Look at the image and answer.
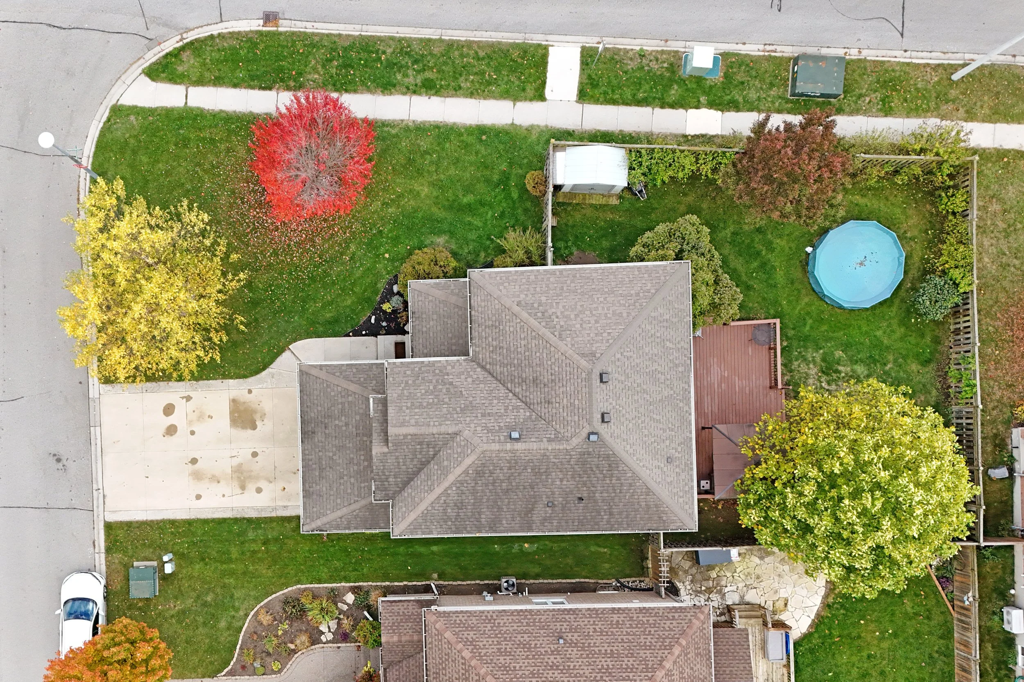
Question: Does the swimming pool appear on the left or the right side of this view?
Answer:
right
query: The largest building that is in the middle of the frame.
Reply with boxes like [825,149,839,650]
[298,260,697,538]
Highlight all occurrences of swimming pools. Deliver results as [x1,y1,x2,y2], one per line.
[808,220,905,309]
